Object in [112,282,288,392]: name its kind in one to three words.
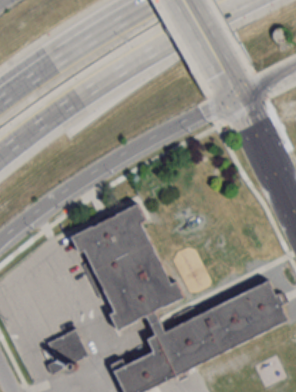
building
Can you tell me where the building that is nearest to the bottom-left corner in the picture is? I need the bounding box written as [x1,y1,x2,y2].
[45,322,87,374]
